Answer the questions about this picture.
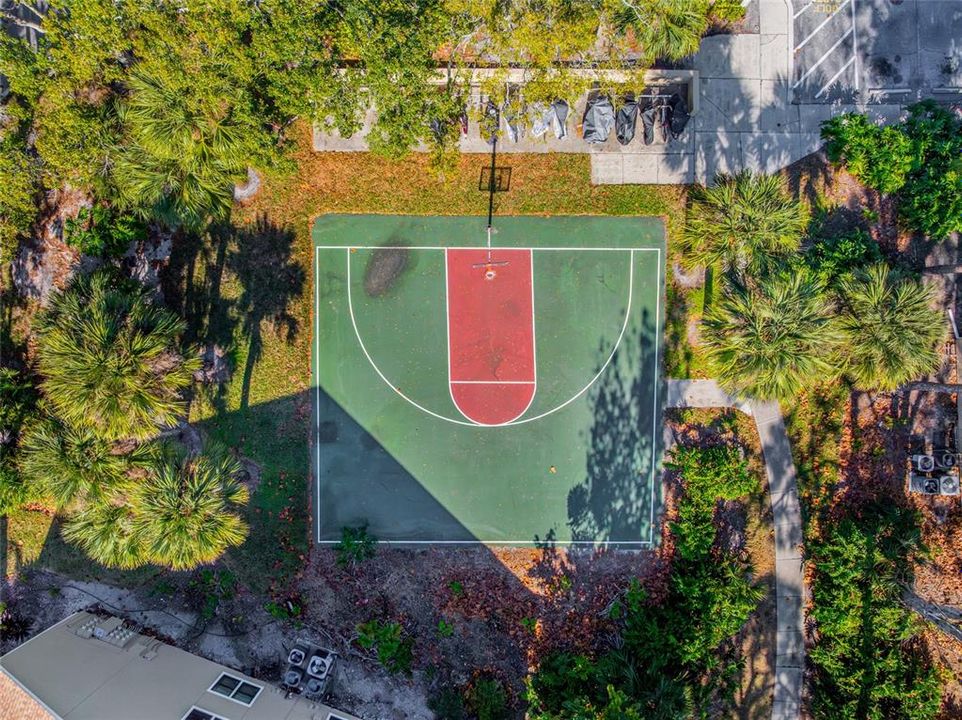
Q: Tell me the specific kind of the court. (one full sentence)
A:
From above, the court can be identified as a basketball court.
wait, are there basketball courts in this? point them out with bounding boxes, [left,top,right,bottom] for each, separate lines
[310,215,667,548]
